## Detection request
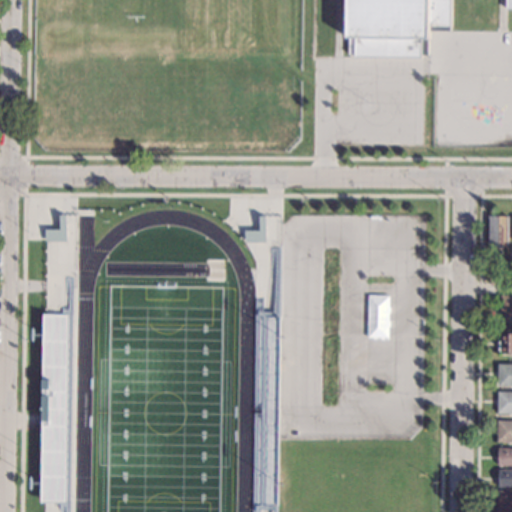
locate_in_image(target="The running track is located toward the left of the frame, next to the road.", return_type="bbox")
[77,210,256,512]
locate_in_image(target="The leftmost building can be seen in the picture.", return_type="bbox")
[45,215,68,241]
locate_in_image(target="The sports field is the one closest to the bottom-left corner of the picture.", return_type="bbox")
[92,225,242,512]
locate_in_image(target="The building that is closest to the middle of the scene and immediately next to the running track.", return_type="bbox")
[244,216,268,242]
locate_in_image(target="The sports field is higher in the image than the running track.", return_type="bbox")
[37,0,302,150]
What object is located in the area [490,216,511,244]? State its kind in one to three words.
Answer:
house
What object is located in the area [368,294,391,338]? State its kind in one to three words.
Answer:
building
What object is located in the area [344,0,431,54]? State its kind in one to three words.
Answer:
building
